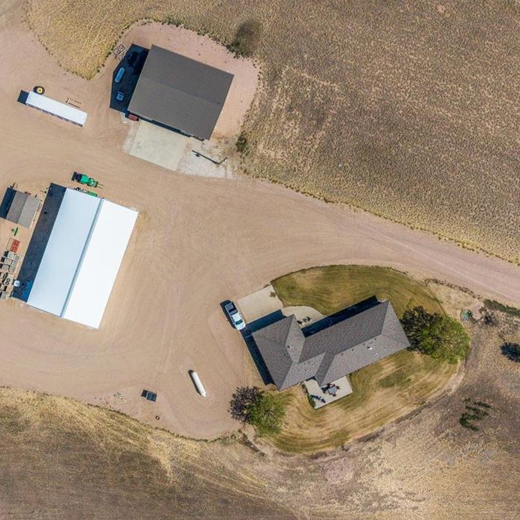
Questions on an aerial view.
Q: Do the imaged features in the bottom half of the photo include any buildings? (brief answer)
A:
Yes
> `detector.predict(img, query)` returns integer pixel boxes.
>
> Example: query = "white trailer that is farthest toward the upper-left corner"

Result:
[26,92,87,127]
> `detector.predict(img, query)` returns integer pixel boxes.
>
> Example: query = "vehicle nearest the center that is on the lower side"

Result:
[223,299,245,330]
